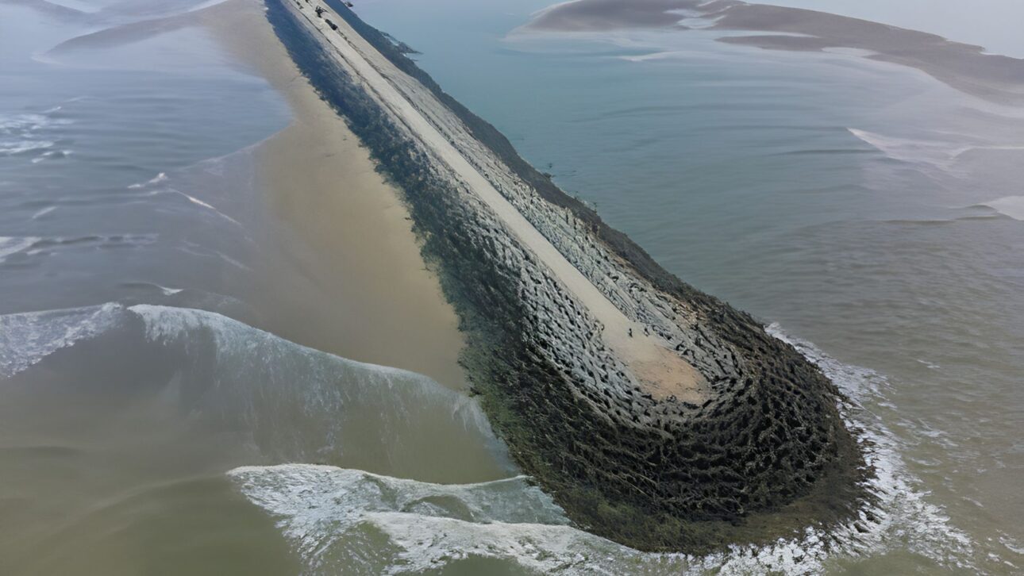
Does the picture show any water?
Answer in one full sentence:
Yes, the picture does contain water.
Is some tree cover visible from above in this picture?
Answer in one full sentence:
No, the picture contains no tree cover.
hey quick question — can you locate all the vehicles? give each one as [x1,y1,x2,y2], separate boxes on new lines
[328,22,336,30]
[314,7,330,18]
[296,0,303,7]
